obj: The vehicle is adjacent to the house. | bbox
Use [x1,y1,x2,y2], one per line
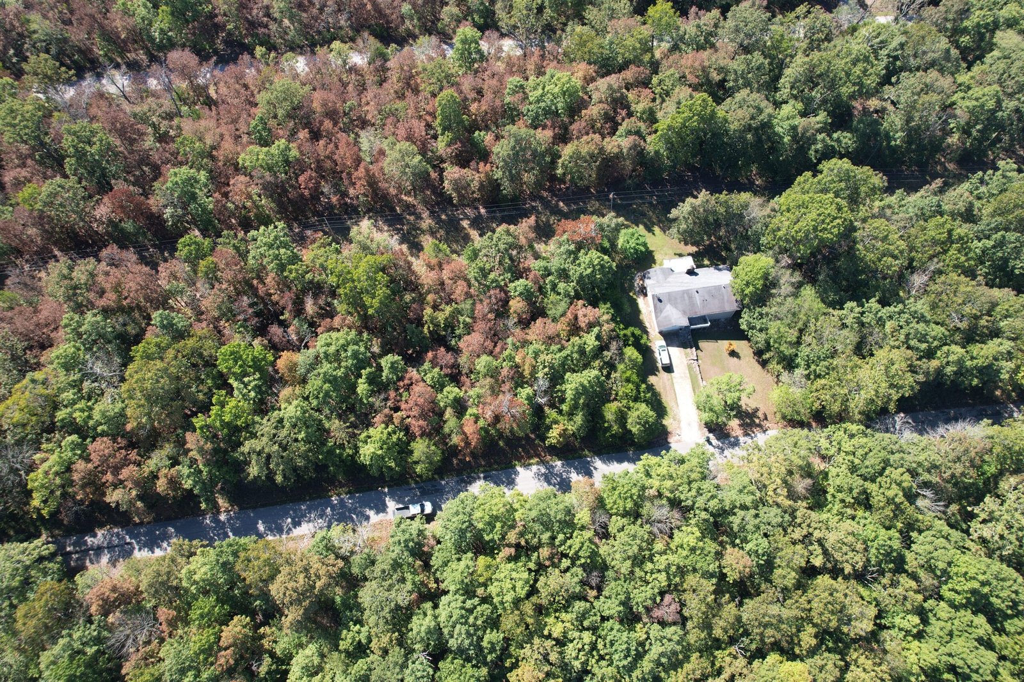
[651,341,672,370]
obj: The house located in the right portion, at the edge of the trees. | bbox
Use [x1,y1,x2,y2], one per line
[641,255,743,347]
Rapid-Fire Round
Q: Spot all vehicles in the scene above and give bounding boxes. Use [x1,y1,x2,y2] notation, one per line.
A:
[392,500,434,521]
[651,341,672,370]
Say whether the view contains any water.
No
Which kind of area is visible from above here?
forest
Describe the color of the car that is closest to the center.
white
